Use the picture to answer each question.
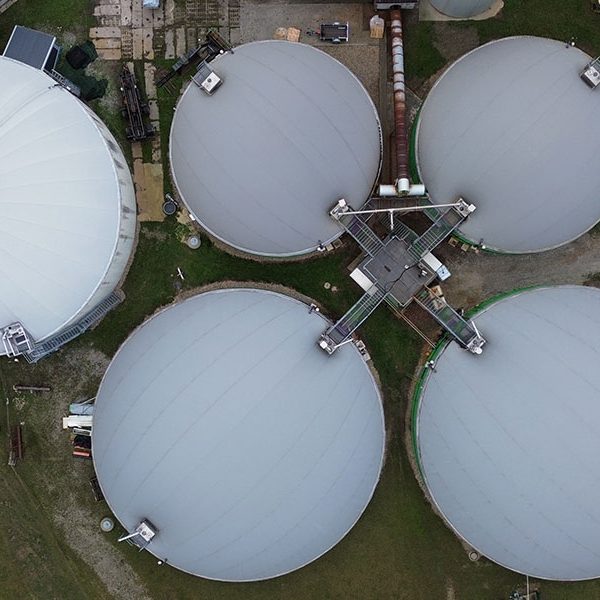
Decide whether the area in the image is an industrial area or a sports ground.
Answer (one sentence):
It's an industrial area.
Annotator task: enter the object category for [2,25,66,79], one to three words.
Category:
shed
